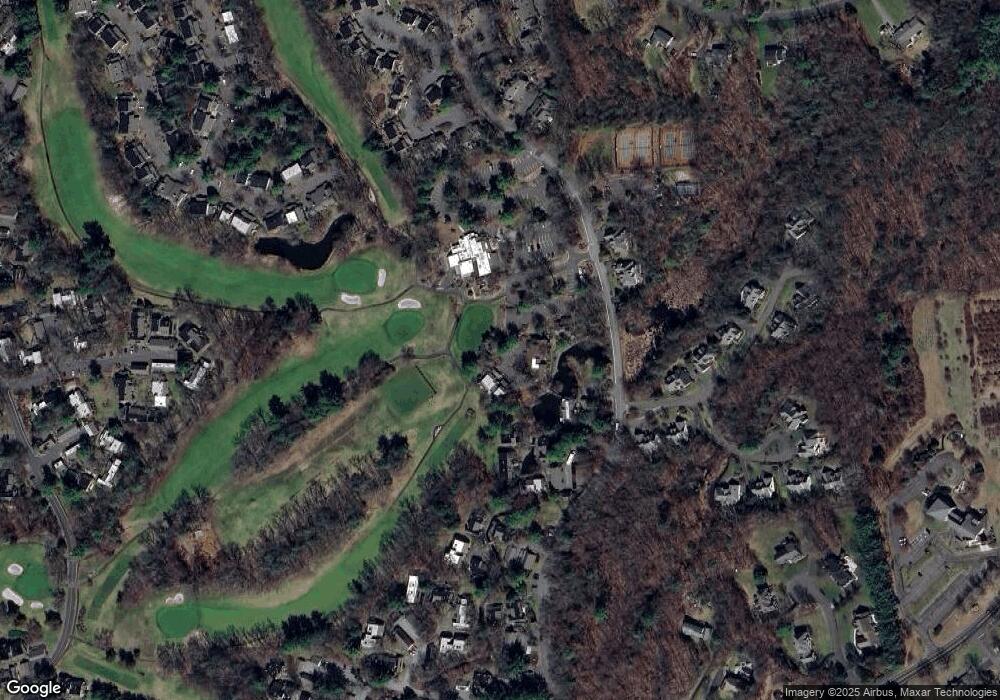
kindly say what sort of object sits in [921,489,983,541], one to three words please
building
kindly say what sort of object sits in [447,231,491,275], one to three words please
building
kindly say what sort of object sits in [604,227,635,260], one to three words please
house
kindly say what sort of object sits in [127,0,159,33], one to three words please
house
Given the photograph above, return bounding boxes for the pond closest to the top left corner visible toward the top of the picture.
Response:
[256,214,355,268]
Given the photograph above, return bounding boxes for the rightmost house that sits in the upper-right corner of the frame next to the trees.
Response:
[883,16,928,50]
